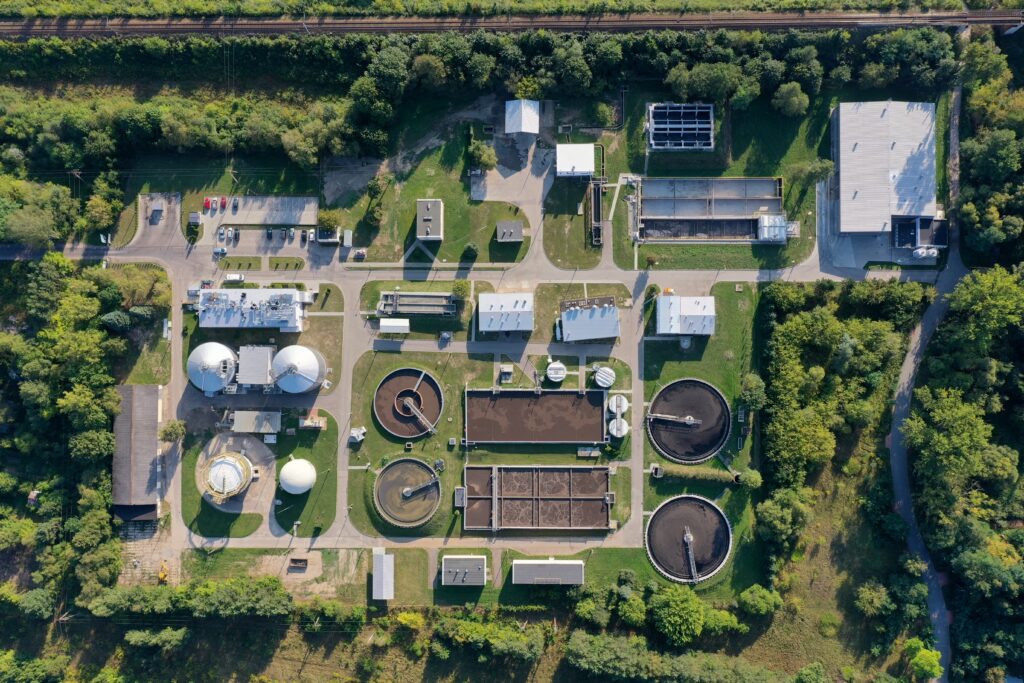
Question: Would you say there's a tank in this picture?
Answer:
Yes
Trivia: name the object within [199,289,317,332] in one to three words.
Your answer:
building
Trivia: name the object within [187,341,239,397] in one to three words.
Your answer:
storage tank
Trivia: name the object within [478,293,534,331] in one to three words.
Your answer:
house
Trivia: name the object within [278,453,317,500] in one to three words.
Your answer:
storage tank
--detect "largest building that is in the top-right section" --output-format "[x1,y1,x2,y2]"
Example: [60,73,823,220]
[830,98,936,234]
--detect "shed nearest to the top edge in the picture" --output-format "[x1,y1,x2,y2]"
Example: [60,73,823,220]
[506,99,551,139]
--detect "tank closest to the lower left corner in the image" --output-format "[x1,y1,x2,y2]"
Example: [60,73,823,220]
[199,446,268,505]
